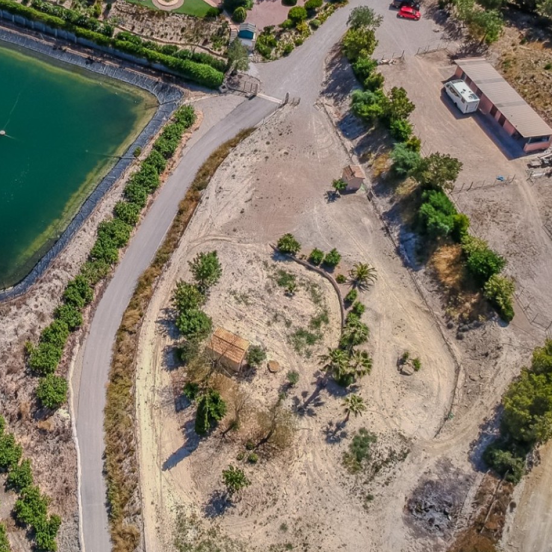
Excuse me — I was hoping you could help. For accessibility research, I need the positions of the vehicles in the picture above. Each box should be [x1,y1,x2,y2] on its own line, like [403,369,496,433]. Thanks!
[446,78,487,114]
[397,6,422,19]
[392,0,422,10]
